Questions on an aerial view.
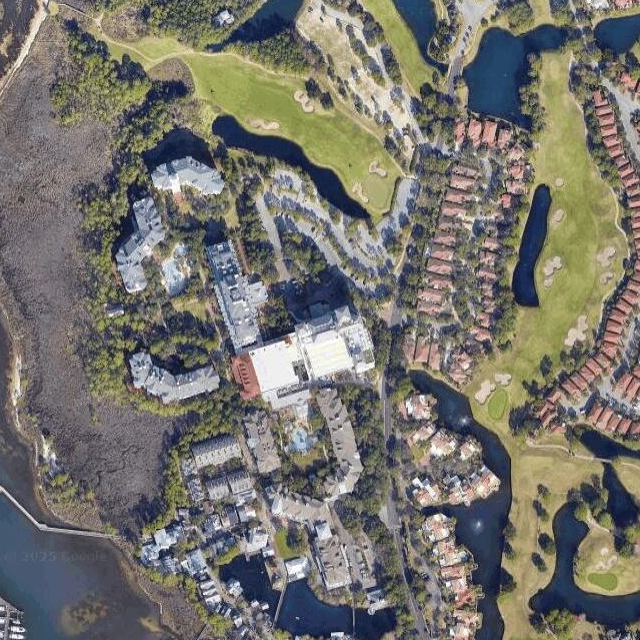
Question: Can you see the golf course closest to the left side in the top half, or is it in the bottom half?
top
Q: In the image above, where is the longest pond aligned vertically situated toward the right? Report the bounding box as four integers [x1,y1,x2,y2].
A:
[512,184,551,308]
